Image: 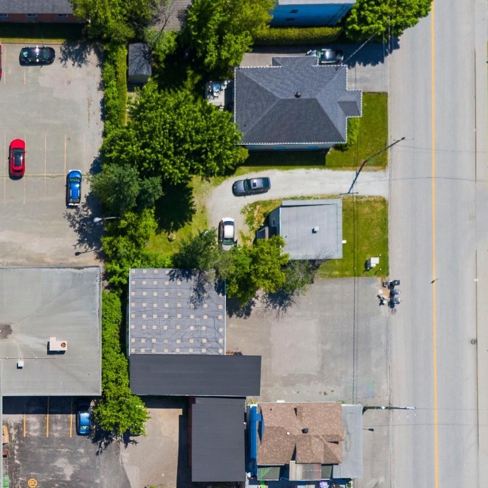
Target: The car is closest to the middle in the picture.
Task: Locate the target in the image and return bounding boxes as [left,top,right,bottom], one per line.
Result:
[218,217,235,254]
